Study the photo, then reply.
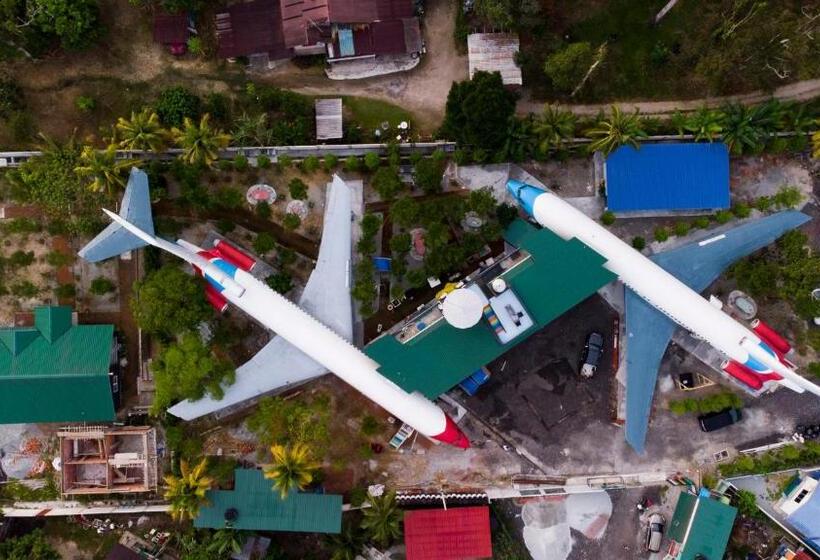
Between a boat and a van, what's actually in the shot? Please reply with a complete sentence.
Visible in the photo is a van.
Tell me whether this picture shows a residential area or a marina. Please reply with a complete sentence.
It's a residential area.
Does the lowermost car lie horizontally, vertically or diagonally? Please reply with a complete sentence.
I'd say the lowermost car is aligned vertically in the picture.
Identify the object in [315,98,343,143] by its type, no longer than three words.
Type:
shed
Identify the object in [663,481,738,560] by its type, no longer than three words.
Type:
house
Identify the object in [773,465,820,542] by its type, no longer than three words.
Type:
house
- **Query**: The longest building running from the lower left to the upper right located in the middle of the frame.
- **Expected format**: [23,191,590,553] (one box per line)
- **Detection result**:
[364,220,616,401]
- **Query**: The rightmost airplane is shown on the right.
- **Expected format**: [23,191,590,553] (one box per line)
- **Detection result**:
[508,183,820,456]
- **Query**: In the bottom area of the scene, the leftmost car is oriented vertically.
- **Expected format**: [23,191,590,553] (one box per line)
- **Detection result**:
[579,332,604,377]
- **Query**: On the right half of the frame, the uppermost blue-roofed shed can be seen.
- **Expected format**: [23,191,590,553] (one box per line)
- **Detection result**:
[597,143,730,214]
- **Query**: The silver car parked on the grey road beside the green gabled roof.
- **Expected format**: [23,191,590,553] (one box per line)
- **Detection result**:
[644,511,665,554]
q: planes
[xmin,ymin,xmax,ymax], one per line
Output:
[77,167,468,446]
[508,183,820,456]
